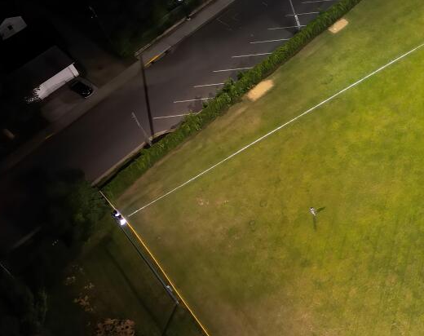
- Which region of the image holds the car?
top left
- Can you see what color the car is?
black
